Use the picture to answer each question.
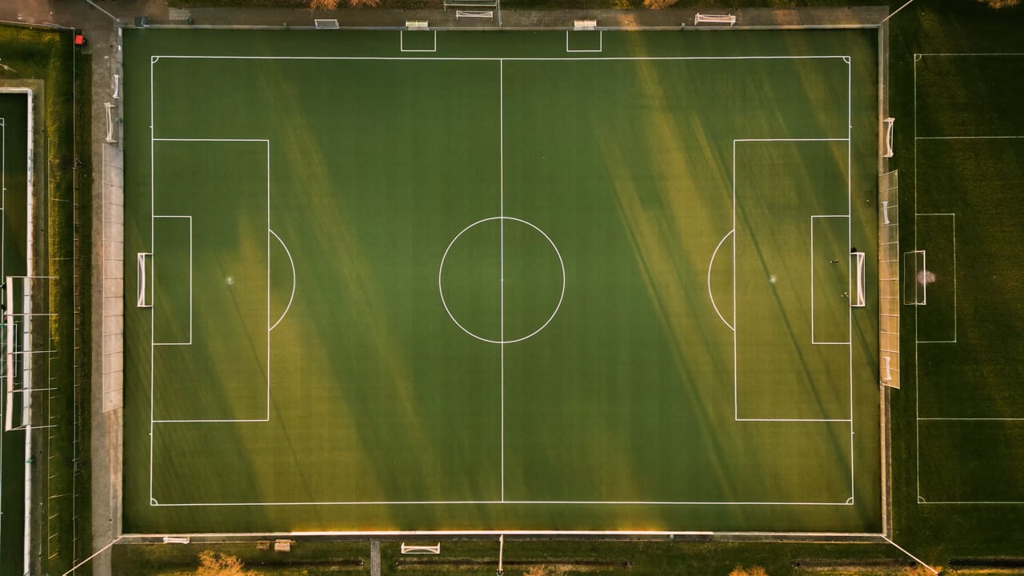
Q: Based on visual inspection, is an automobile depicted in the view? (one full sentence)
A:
No, no automobile is visible in the scene.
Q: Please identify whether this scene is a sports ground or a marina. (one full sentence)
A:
The area seen from above is a sports ground.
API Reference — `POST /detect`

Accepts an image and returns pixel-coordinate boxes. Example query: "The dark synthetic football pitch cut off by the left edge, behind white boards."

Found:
[0,92,28,576]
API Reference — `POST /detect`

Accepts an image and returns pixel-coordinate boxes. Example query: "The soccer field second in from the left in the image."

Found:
[122,30,882,532]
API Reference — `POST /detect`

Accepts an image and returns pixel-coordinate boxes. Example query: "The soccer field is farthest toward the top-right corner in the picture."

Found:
[890,0,1024,553]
